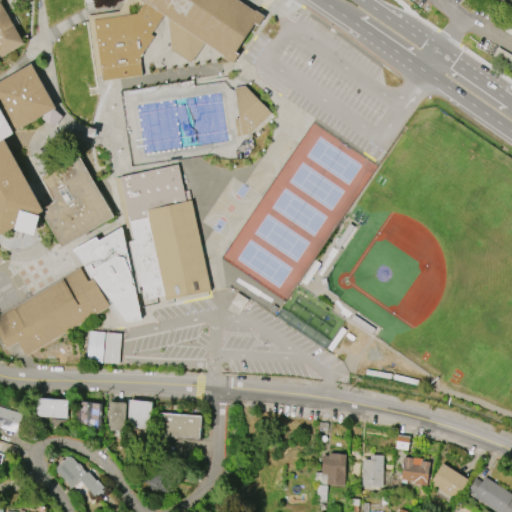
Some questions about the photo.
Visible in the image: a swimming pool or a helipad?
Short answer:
swimming pool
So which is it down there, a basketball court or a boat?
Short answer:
basketball court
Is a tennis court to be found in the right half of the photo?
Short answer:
Yes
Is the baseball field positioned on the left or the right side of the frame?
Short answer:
right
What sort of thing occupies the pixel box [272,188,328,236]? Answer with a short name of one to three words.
tennis court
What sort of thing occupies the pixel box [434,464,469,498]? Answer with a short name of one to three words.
house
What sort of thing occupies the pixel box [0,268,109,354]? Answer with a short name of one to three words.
building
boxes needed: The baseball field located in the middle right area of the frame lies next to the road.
[328,106,512,411]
